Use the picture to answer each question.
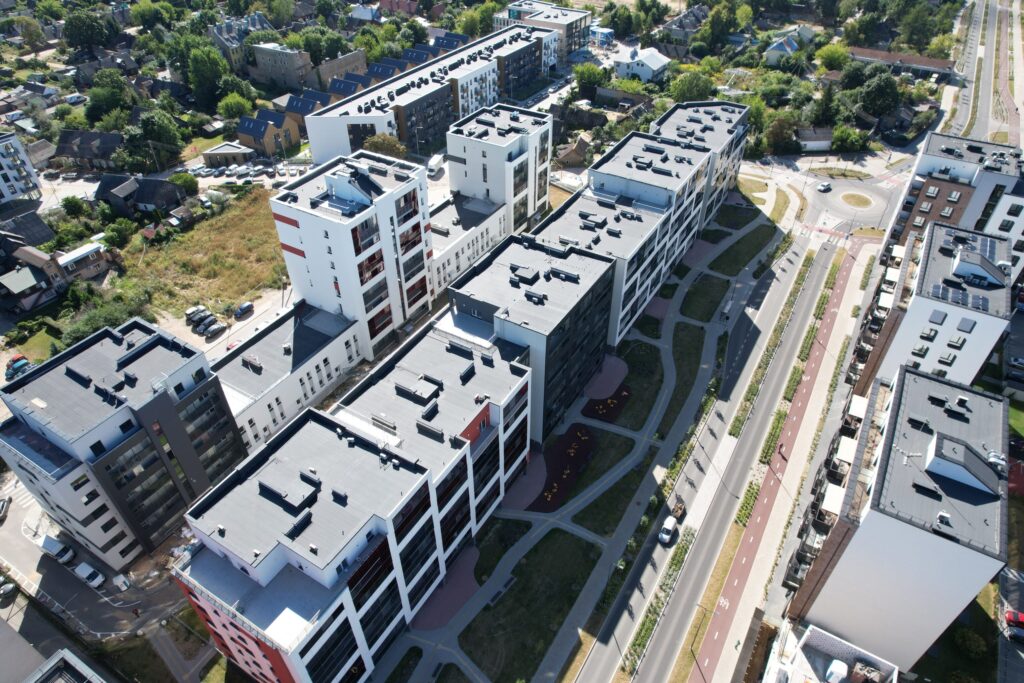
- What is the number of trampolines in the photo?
0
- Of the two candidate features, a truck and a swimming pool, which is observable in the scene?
truck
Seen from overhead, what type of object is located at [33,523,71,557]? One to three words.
truck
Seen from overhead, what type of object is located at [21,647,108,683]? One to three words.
building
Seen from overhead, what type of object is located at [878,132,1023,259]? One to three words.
building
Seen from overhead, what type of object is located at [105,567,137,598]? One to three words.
car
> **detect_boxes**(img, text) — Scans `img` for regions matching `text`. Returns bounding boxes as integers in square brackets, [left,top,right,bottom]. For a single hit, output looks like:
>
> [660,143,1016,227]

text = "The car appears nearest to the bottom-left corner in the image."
[0,572,28,606]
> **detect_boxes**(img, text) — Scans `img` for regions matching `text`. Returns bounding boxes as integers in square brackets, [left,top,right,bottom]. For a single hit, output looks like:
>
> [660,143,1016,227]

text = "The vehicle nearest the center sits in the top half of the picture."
[427,152,441,172]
